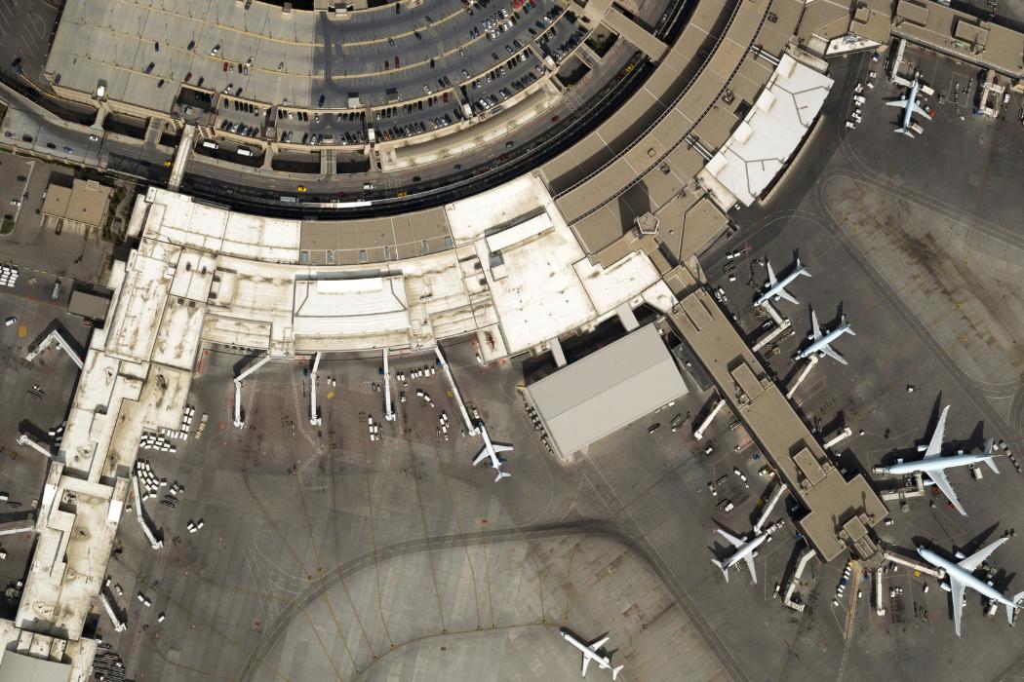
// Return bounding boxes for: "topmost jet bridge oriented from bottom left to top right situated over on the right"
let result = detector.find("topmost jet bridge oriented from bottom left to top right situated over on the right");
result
[786,352,816,398]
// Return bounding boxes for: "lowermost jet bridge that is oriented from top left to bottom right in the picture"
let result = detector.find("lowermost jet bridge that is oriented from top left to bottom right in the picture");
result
[100,595,126,632]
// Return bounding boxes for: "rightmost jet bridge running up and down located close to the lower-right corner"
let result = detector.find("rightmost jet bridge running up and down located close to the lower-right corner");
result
[872,569,888,615]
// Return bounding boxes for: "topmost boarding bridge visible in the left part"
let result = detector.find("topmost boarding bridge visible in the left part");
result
[22,330,85,368]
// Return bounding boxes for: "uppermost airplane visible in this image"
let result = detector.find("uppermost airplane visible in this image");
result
[884,79,935,135]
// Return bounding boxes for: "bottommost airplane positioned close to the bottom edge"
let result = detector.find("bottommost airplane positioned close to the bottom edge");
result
[562,633,623,679]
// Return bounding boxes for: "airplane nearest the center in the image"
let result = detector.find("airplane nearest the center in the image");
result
[474,423,515,482]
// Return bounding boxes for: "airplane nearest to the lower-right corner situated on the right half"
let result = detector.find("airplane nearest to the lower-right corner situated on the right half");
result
[919,537,1024,637]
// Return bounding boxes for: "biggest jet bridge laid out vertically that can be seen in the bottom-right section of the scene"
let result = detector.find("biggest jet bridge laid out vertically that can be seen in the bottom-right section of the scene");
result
[783,550,816,613]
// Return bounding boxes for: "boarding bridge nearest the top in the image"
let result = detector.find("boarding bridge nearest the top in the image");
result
[890,42,915,90]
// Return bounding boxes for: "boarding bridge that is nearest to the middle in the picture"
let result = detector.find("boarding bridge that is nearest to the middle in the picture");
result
[435,346,479,435]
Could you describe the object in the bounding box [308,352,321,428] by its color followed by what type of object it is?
white jet bridge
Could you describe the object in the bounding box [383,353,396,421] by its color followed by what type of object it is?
white jet bridge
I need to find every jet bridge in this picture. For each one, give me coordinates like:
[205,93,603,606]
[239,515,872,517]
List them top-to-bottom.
[890,42,915,90]
[979,73,1001,120]
[989,83,1004,112]
[752,296,787,352]
[22,330,85,368]
[435,346,479,435]
[308,352,321,428]
[786,352,816,398]
[383,353,396,421]
[232,354,270,431]
[690,400,725,441]
[823,426,851,449]
[17,436,53,459]
[880,470,925,500]
[131,477,165,551]
[749,484,787,536]
[0,525,37,536]
[783,550,816,613]
[884,554,945,578]
[872,569,888,615]
[100,595,126,632]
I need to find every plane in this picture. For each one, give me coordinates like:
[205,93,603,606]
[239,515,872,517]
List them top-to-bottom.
[884,79,935,135]
[753,258,812,306]
[800,308,857,362]
[886,404,1005,517]
[474,423,515,482]
[714,530,769,584]
[919,537,1024,637]
[562,633,623,679]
